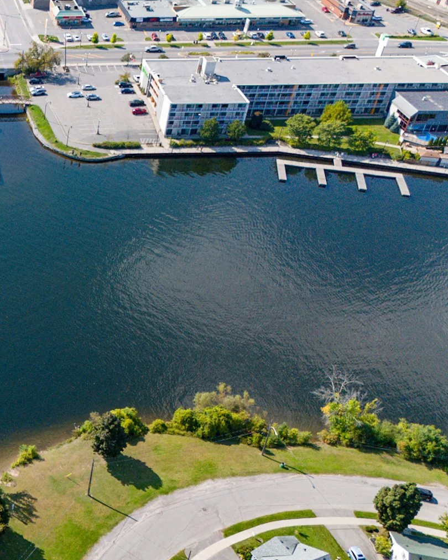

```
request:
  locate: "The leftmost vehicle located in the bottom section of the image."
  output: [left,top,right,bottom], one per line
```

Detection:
[346,541,372,560]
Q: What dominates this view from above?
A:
water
